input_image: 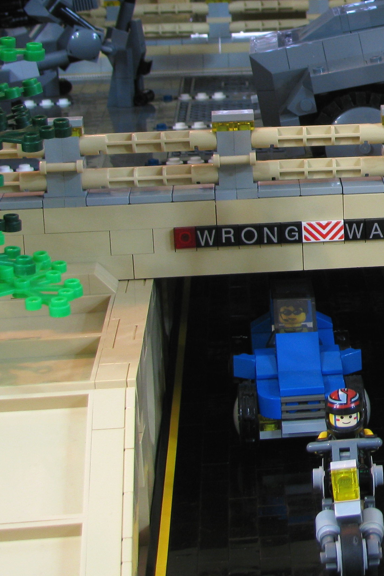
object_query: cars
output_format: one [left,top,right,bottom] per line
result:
[227,281,374,436]
[248,0,384,128]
